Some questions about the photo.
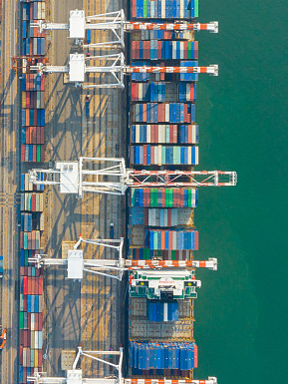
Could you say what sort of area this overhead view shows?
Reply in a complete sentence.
What you see here is a port.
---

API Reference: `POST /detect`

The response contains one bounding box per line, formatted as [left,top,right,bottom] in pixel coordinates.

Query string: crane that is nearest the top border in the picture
[32,5,219,52]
